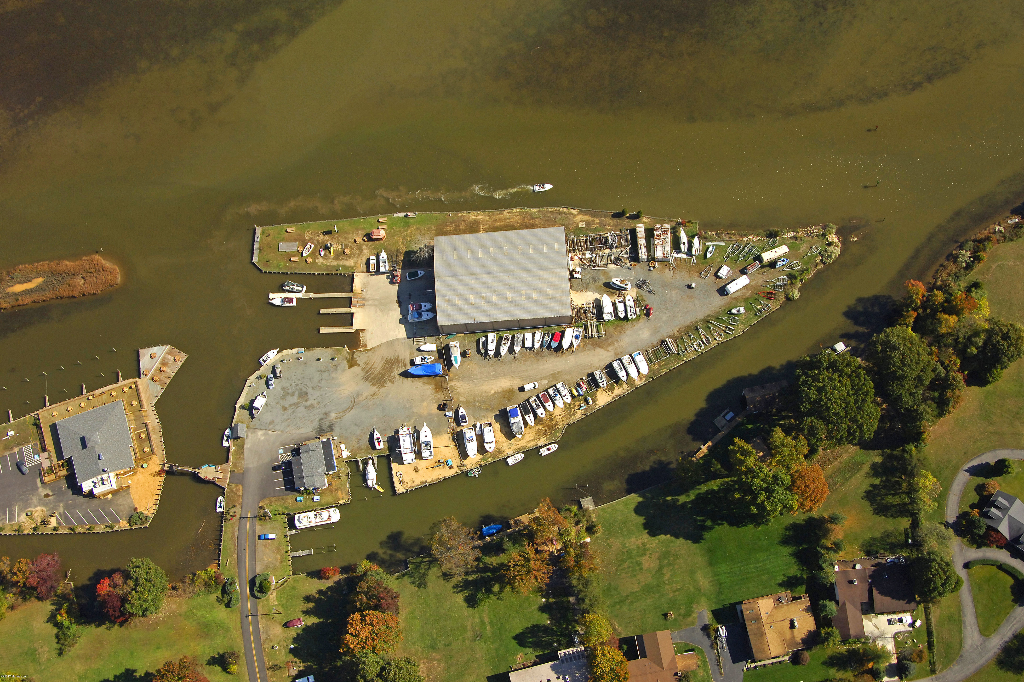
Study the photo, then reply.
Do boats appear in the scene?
Yes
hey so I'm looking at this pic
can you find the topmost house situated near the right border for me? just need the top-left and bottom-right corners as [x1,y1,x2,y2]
[981,491,1024,541]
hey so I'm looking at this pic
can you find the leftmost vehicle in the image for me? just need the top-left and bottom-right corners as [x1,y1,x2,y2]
[17,460,30,476]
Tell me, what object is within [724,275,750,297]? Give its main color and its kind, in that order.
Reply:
white camper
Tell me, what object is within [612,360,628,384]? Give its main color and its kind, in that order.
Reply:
white boat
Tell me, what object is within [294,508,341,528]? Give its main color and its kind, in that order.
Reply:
white boat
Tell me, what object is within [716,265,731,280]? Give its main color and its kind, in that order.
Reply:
white vehicle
